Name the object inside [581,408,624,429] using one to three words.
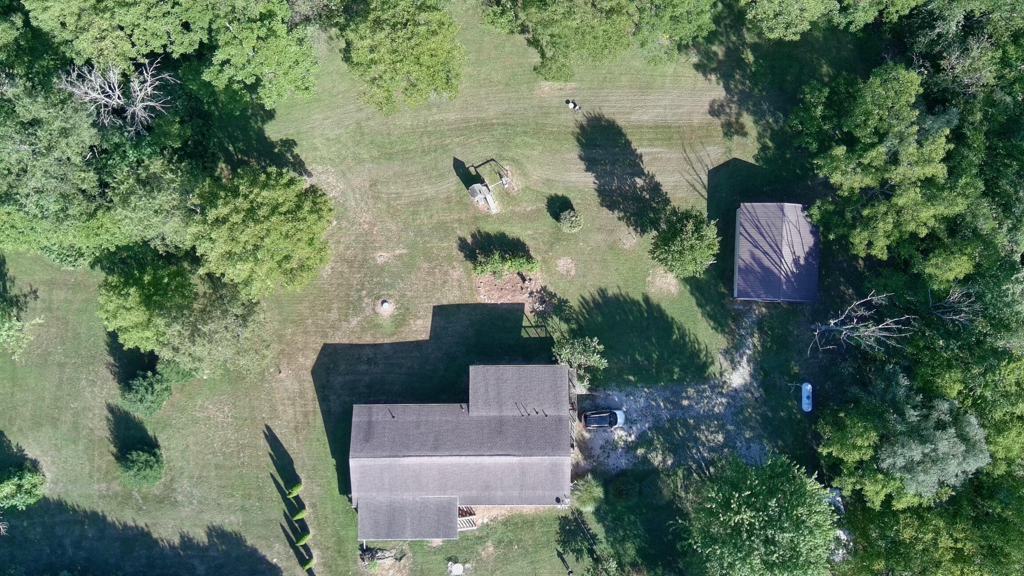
car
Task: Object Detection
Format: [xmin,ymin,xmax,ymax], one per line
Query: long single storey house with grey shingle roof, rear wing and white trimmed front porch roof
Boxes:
[349,365,571,540]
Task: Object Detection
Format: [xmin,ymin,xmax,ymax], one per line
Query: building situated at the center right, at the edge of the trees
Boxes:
[732,202,820,302]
